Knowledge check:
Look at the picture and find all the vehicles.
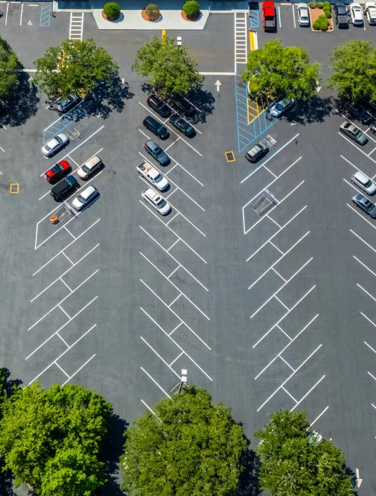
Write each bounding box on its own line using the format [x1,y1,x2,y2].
[349,2,365,27]
[140,185,171,216]
[297,3,310,27]
[133,158,171,194]
[349,169,376,197]
[262,0,276,29]
[267,93,298,120]
[363,2,376,27]
[333,0,350,28]
[143,92,173,121]
[142,115,169,140]
[141,138,171,168]
[341,100,373,125]
[76,153,104,179]
[167,113,198,140]
[73,185,101,212]
[39,133,70,159]
[50,175,77,199]
[55,94,81,114]
[366,120,376,137]
[337,119,369,146]
[349,190,376,222]
[168,92,196,118]
[44,161,69,183]
[243,139,272,163]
